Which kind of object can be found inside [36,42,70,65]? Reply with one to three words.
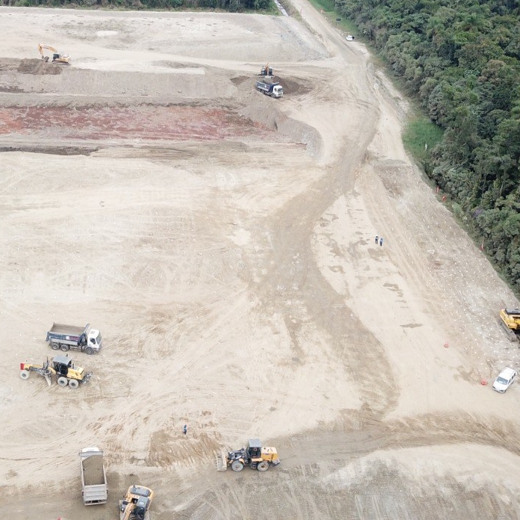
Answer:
work vehicle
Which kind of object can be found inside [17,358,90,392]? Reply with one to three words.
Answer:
work vehicle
